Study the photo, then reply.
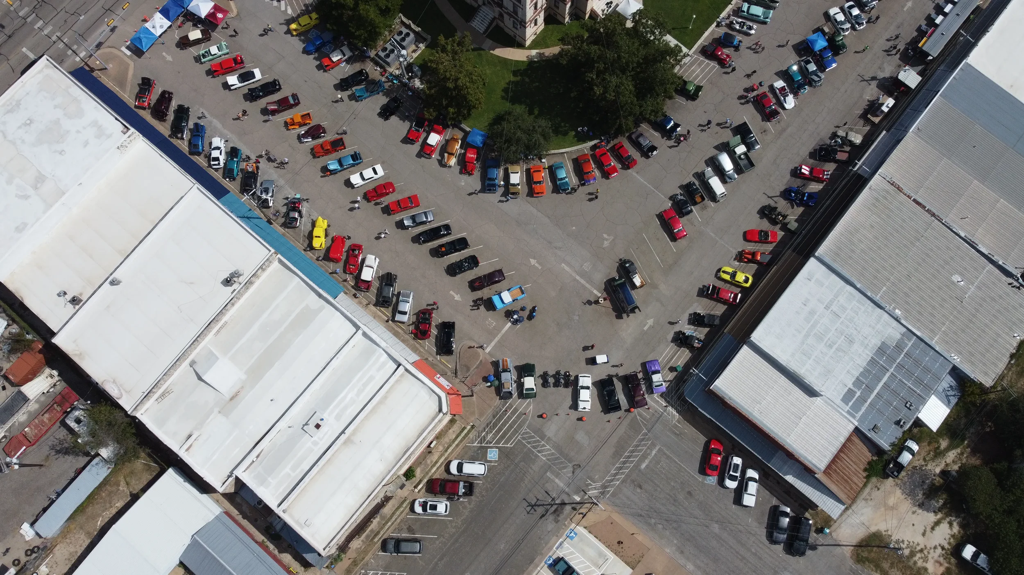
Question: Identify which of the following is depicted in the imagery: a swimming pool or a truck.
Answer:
truck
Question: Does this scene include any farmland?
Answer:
No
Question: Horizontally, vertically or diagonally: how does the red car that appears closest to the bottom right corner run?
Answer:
vertically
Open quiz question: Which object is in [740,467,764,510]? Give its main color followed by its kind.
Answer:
white truck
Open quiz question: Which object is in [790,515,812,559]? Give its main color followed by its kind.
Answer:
black car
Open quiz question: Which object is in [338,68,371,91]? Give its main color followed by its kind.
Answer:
black car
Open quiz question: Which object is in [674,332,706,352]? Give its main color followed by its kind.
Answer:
black vehicle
